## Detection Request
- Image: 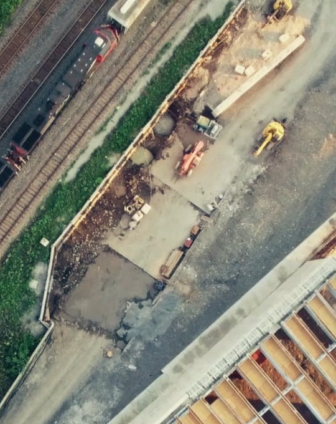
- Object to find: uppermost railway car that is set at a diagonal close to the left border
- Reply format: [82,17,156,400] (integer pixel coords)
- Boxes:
[10,18,121,160]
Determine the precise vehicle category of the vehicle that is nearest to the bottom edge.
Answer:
truck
